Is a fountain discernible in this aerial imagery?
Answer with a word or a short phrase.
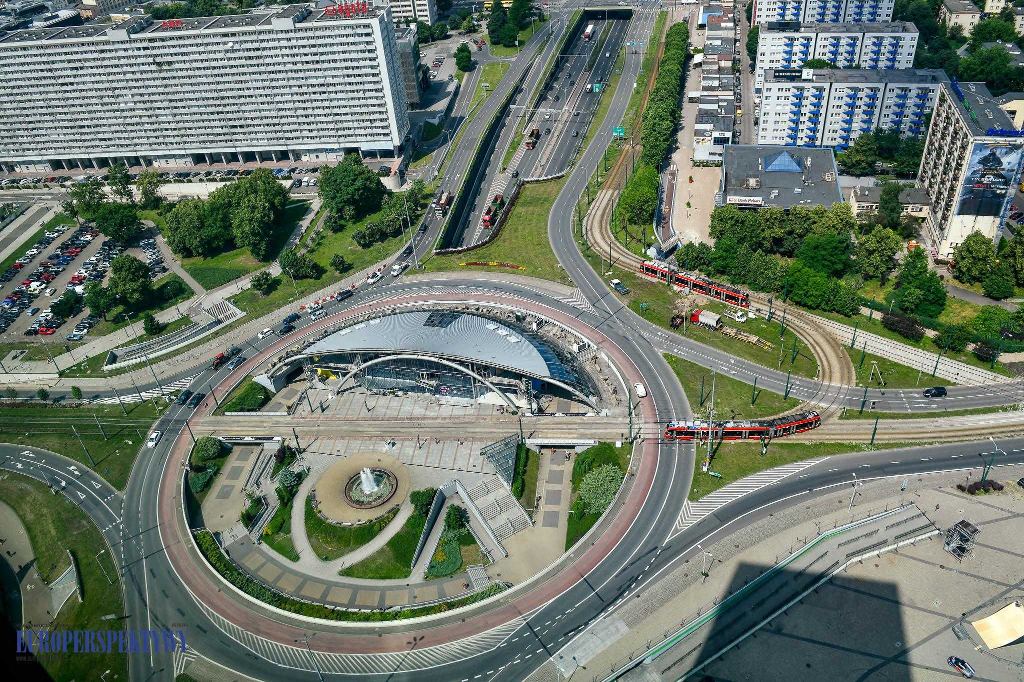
Yes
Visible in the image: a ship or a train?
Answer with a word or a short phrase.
train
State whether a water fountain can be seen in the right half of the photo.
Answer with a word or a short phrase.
No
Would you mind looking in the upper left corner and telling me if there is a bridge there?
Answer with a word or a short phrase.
No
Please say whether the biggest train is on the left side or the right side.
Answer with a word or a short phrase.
right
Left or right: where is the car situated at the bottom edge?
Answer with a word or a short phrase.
right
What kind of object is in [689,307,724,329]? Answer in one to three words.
truck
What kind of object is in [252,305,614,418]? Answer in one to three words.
building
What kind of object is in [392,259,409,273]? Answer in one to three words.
vehicle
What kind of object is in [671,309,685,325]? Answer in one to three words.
work vehicle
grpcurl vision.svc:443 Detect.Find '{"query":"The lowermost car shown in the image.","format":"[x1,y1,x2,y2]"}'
[943,652,980,681]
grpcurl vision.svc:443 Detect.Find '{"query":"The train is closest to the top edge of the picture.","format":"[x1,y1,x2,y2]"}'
[642,259,754,307]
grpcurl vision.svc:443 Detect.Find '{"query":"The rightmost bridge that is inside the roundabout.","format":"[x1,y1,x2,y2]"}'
[521,412,628,457]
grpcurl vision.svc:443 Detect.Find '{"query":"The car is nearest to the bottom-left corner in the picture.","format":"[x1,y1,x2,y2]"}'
[146,429,160,445]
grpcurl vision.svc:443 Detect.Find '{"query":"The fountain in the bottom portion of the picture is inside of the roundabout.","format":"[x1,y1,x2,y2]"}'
[342,464,398,509]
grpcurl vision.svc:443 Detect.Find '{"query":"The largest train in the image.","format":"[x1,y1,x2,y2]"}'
[666,402,821,439]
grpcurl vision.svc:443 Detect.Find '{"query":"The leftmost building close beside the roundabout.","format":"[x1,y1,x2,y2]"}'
[0,0,411,174]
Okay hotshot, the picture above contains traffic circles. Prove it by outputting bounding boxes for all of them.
[120,279,695,682]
